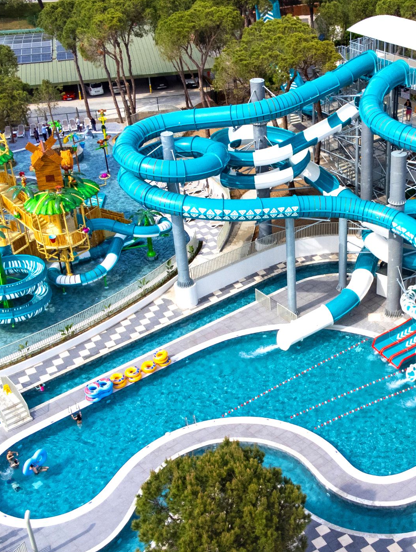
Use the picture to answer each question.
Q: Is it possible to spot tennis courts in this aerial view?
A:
No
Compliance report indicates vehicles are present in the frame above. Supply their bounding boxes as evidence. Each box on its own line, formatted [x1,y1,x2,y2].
[183,73,202,84]
[109,80,129,93]
[87,82,106,96]
[59,85,76,99]
[151,75,170,89]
